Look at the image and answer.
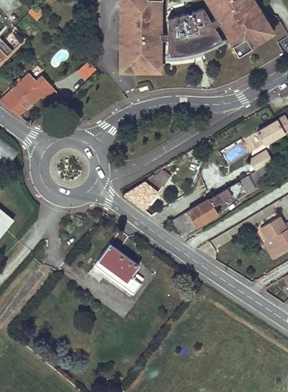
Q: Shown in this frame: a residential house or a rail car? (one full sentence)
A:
Of the two, only a residential house appears.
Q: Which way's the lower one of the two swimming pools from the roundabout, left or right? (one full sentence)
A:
It is on the right side of the roundabout that the lower one of the two swimming pools is positioned.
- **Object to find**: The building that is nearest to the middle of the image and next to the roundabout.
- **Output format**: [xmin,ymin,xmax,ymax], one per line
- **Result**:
[124,182,164,212]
